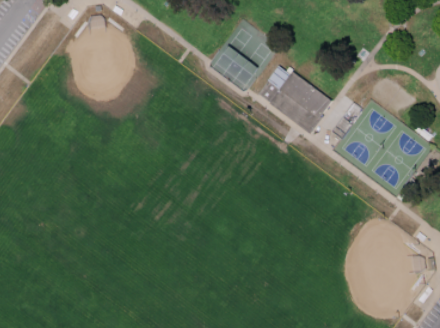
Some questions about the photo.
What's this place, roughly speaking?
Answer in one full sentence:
What you see here is a sports ground.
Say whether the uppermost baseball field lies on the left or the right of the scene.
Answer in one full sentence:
The uppermost baseball field appears in the left half of the scene.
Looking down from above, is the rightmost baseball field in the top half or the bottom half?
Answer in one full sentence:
You can find the rightmost baseball field in the bottom half.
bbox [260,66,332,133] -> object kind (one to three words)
building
